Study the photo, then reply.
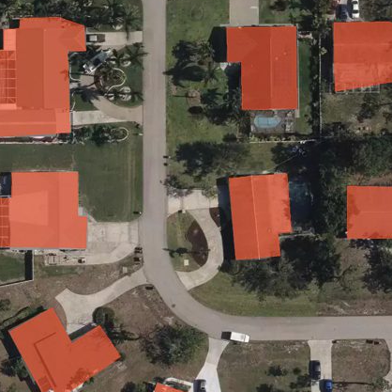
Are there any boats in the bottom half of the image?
No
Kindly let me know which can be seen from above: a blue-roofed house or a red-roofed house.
red-roofed house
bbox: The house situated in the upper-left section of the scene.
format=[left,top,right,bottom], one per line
[0,18,86,137]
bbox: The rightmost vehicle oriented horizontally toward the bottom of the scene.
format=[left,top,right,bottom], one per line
[229,331,253,344]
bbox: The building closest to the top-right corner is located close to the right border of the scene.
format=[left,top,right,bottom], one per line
[334,22,392,91]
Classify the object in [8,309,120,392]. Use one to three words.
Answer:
house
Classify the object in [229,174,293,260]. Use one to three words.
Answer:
house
